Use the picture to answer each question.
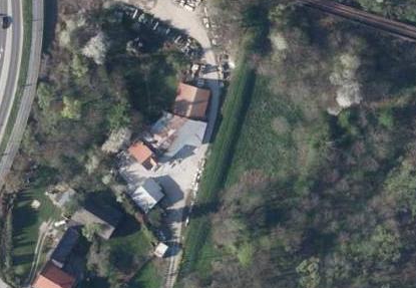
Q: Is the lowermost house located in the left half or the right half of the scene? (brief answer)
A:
left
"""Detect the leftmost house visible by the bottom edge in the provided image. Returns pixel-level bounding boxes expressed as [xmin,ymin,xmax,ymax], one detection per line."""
[32,260,77,288]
